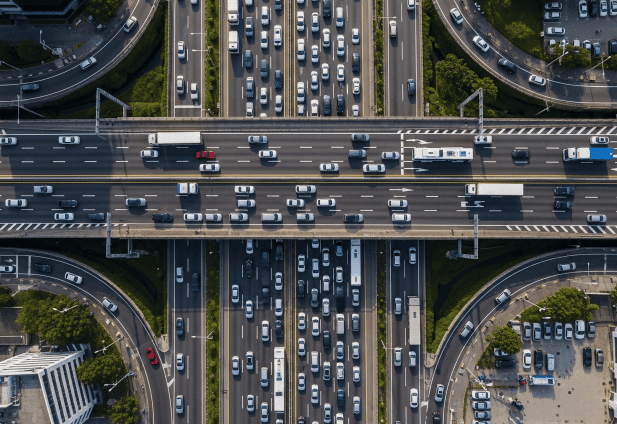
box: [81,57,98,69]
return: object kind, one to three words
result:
vehicle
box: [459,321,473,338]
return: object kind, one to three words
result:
car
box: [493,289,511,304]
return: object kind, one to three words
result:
car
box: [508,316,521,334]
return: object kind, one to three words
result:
vehicle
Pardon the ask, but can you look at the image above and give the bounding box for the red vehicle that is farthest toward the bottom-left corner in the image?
[146,347,159,364]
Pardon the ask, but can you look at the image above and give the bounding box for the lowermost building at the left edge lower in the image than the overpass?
[0,350,96,424]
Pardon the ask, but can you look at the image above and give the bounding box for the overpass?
[0,117,617,240]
